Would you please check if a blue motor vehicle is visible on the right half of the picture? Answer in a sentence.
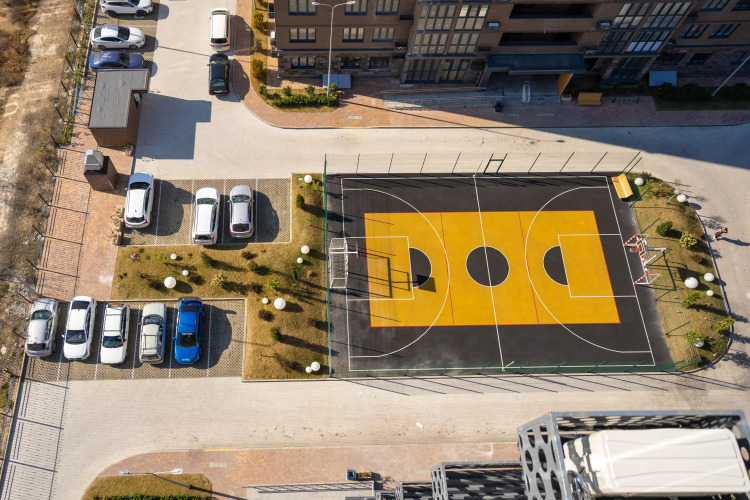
No, no blue motor vehicle is visible on the right half of the picture.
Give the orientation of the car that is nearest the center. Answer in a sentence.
In this picture, the car that is nearest the center lies vertically.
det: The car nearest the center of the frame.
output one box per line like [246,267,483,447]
[229,188,255,238]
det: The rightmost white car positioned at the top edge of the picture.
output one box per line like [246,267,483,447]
[209,12,231,53]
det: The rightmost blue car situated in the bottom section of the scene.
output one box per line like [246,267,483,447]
[174,297,204,362]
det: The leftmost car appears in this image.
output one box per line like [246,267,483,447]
[28,299,62,357]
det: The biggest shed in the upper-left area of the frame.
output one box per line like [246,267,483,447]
[87,68,150,146]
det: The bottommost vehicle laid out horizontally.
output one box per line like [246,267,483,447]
[89,51,141,73]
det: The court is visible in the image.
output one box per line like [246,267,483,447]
[325,171,676,378]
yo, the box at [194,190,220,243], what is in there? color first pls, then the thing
white car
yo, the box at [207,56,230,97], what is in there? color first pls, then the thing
black car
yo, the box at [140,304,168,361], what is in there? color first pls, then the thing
white car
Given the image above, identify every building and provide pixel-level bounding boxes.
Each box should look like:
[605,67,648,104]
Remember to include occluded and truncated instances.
[87,68,150,146]
[264,0,750,110]
[245,410,750,500]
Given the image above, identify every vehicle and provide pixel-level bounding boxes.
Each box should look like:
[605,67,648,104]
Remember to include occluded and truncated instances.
[101,305,135,362]
[100,0,150,18]
[174,297,204,362]
[127,177,155,229]
[64,296,99,359]
[209,12,231,53]
[28,299,62,357]
[140,304,168,361]
[229,188,255,238]
[194,190,220,243]
[207,56,230,97]
[90,26,143,51]
[89,51,141,73]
